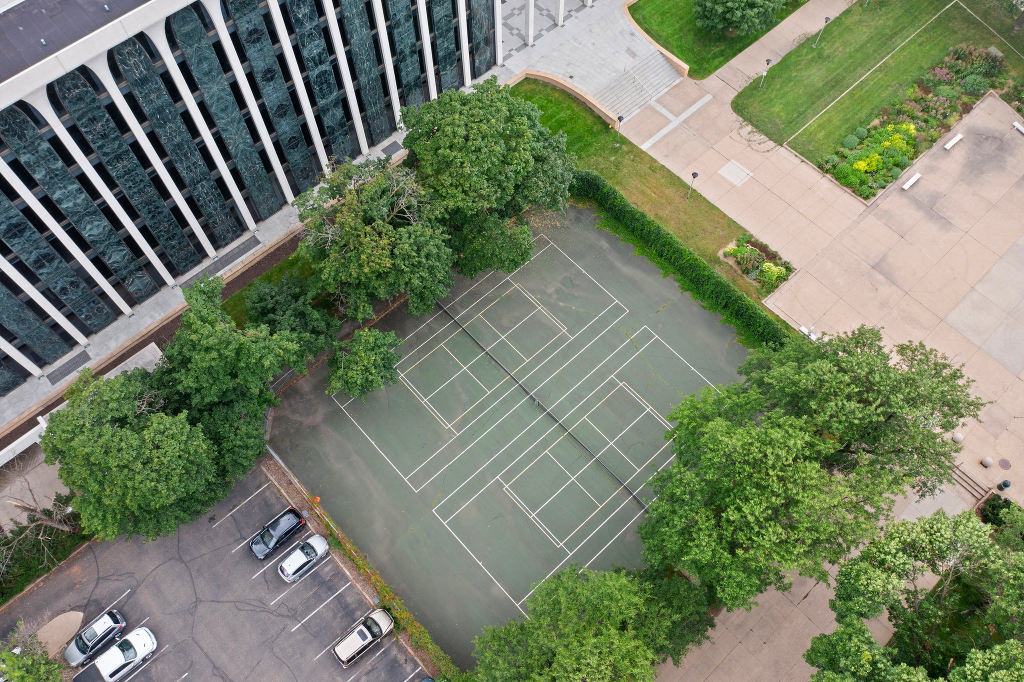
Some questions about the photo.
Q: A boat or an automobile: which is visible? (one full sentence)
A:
This aerial view contains an automobile.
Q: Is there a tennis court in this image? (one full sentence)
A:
Yes, there's a tennis court here.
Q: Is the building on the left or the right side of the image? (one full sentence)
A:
You can find the building on the left side of the picture.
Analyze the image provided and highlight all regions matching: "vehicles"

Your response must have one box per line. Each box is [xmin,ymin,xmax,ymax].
[273,531,329,584]
[59,608,126,671]
[329,609,394,672]
[248,504,308,561]
[67,625,156,682]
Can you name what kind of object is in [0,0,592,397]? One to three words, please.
building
